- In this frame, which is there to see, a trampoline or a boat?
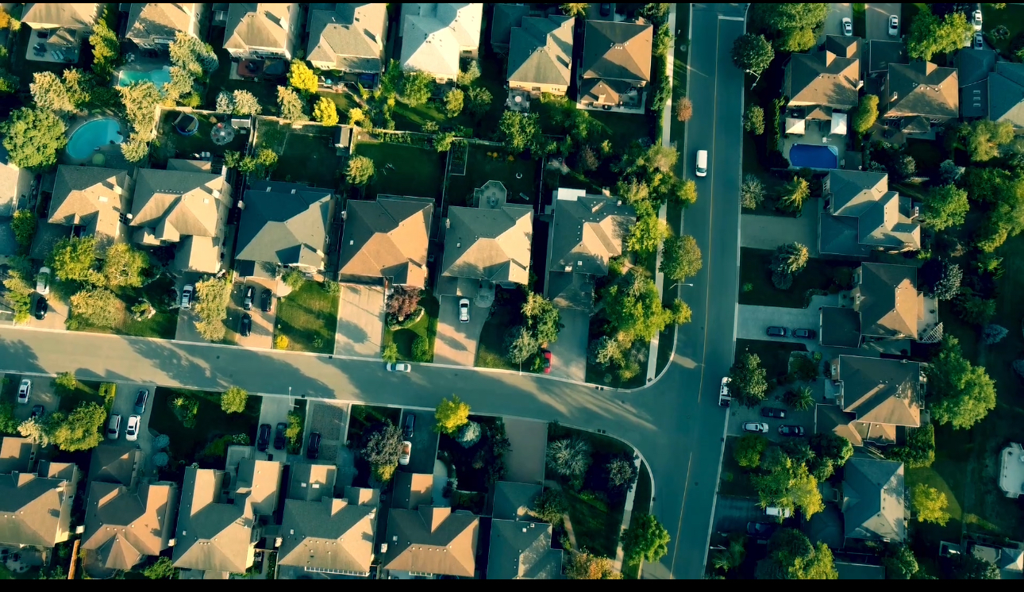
trampoline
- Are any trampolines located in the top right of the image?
No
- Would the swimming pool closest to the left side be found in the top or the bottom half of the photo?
top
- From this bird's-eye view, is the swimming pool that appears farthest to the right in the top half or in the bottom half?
top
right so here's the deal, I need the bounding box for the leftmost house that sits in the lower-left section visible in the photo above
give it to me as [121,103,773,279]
[0,436,84,550]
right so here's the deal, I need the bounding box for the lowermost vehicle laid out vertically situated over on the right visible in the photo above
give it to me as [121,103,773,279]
[719,377,731,408]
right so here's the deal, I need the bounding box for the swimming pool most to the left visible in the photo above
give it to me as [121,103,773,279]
[64,116,124,161]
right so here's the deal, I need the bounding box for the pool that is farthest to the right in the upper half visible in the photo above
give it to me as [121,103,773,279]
[787,141,839,169]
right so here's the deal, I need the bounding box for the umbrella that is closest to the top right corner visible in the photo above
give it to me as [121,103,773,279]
[827,113,849,134]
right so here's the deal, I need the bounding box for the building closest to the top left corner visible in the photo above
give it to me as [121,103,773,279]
[20,0,105,46]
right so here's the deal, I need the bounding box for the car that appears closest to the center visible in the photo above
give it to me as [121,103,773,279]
[458,297,470,322]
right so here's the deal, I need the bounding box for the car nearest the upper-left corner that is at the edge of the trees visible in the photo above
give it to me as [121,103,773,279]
[38,267,50,292]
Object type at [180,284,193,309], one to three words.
vehicle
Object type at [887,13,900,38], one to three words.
vehicle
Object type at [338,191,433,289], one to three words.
house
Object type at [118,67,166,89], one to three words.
swimming pool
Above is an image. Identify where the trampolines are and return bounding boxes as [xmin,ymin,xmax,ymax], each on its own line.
[171,110,197,135]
